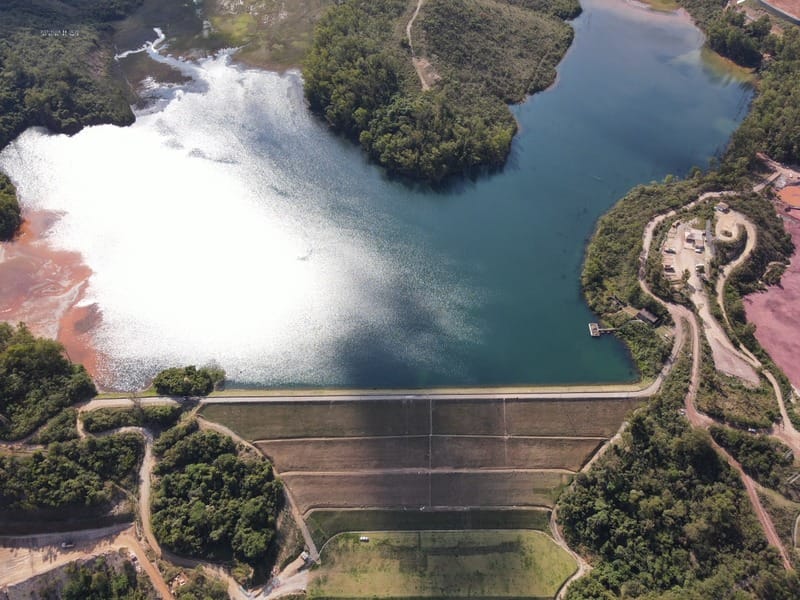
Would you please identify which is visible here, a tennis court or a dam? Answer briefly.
dam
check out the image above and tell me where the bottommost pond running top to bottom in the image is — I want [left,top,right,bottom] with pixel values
[747,218,800,397]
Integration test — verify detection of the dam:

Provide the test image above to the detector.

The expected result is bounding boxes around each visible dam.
[162,384,646,537]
